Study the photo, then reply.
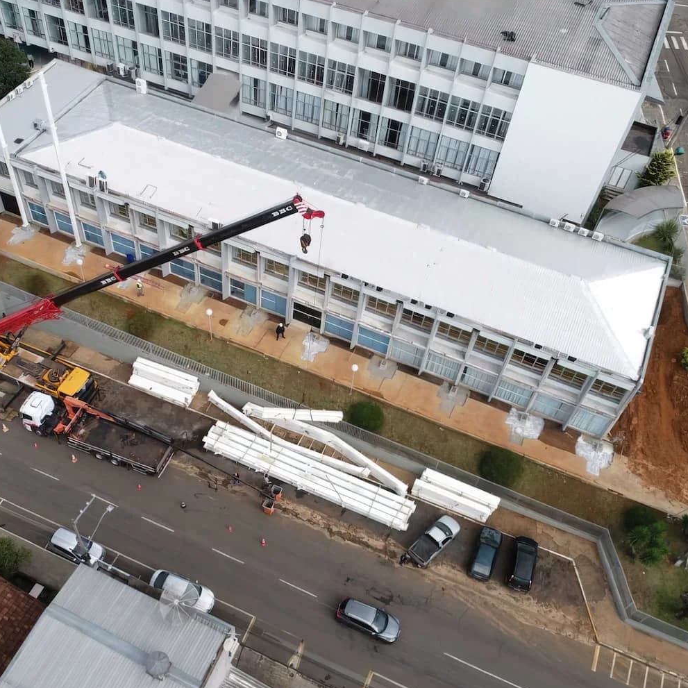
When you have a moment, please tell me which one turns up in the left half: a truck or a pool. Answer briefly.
truck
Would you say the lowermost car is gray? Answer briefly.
Yes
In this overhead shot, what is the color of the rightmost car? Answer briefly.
black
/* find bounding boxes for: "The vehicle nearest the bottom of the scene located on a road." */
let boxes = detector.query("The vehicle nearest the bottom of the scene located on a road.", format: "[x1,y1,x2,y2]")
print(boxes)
[335,595,401,650]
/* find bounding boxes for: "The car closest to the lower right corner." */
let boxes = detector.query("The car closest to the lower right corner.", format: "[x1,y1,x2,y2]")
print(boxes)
[508,535,547,589]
